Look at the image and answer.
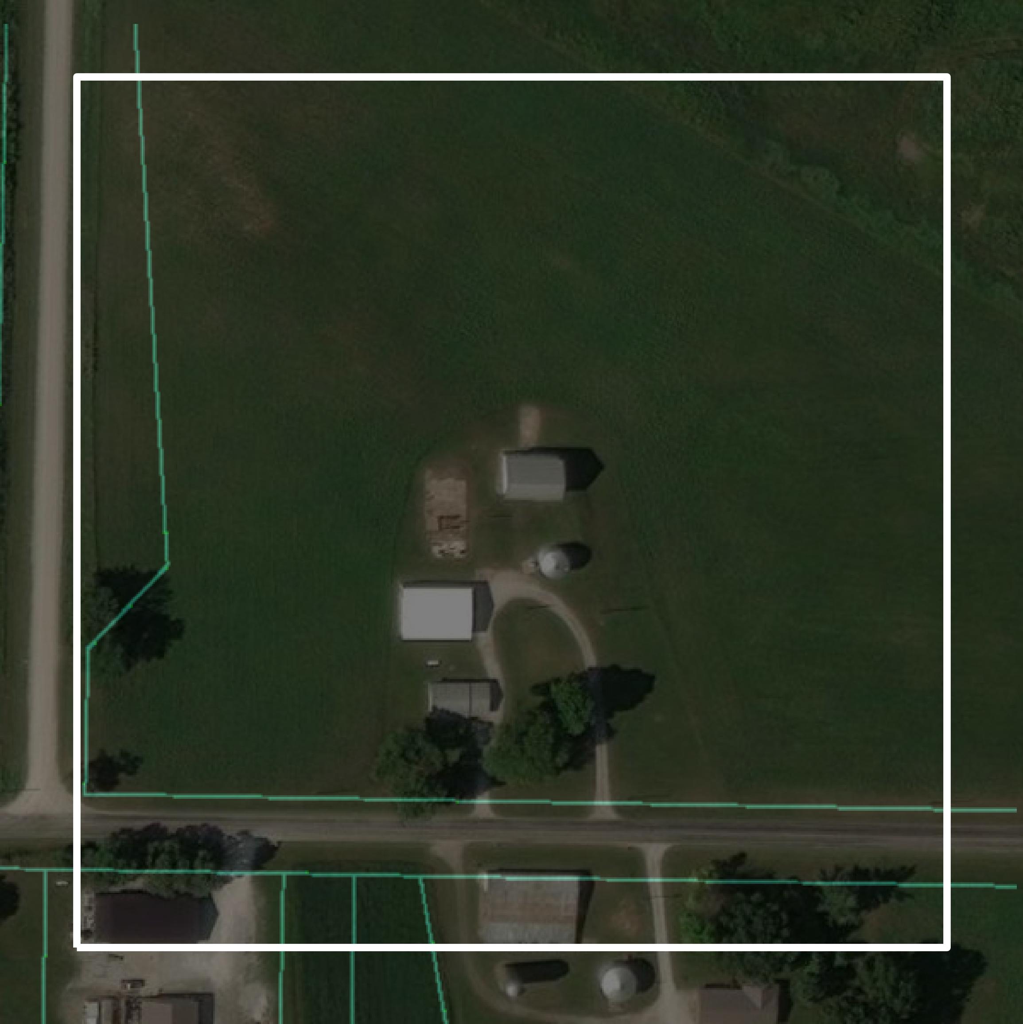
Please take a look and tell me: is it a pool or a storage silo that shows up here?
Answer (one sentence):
This aerial view contains a storage silo.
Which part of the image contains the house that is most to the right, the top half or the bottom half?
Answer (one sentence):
Seen from above, the house that is most to the right lies in the bottom half of the view.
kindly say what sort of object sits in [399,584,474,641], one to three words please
shed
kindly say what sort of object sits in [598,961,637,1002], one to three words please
silo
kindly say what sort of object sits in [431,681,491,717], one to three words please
shed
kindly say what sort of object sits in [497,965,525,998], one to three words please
silo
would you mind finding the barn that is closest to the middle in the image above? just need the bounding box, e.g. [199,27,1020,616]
[501,446,568,500]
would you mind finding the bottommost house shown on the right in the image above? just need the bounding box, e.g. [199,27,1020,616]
[699,985,781,1024]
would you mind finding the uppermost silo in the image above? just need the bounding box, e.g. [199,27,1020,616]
[536,544,570,579]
